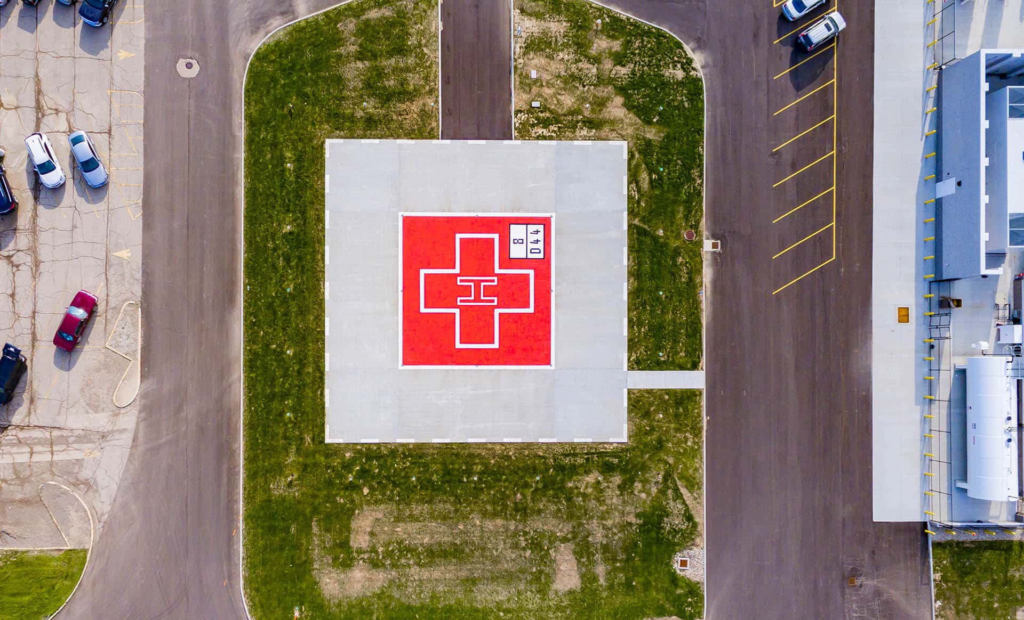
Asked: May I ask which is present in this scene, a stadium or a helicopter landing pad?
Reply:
helicopter landing pad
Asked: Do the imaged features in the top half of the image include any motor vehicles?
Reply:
Yes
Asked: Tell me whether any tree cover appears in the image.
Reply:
No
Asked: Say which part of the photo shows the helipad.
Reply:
center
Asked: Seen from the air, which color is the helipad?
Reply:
white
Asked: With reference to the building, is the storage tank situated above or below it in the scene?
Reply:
below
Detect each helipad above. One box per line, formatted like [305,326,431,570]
[326,139,628,442]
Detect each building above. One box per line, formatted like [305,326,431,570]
[936,49,1024,281]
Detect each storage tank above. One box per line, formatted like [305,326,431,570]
[956,352,1024,499]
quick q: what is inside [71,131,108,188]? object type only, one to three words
car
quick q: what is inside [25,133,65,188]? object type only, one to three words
car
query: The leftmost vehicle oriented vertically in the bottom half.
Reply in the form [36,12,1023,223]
[0,348,25,402]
